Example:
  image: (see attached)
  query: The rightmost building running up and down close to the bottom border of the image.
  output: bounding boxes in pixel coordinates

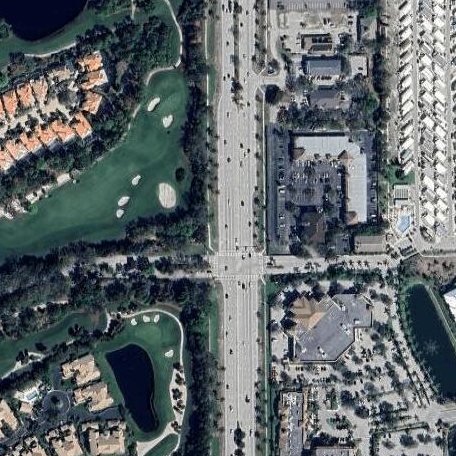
[279,392,308,456]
